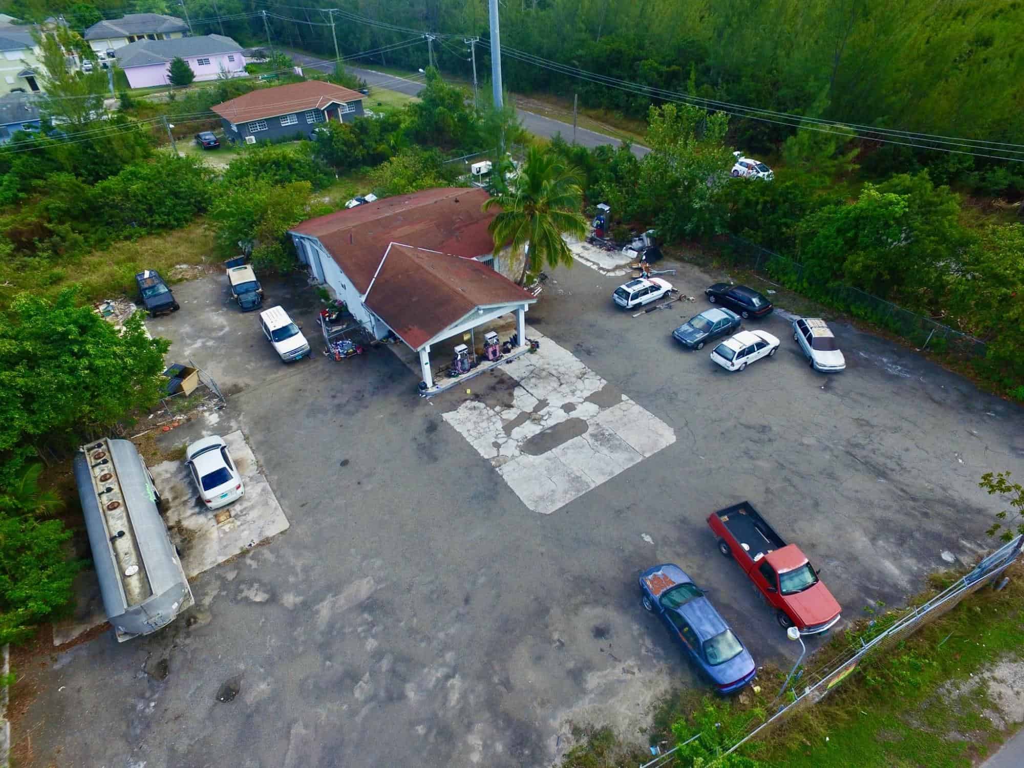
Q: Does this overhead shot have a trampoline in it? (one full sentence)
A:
No, no trampoline can be seen from above.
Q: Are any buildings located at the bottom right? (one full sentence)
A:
No, there's no building to be seen at the bottom right.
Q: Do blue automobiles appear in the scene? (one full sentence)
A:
Yes, the photo shows a blue automobile.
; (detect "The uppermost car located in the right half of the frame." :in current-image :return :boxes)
[726,151,769,180]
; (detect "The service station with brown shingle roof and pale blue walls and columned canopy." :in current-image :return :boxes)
[287,187,538,398]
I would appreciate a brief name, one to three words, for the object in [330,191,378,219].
car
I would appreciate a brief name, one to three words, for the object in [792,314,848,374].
car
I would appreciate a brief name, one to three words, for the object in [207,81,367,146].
house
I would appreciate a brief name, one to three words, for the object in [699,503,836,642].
truck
